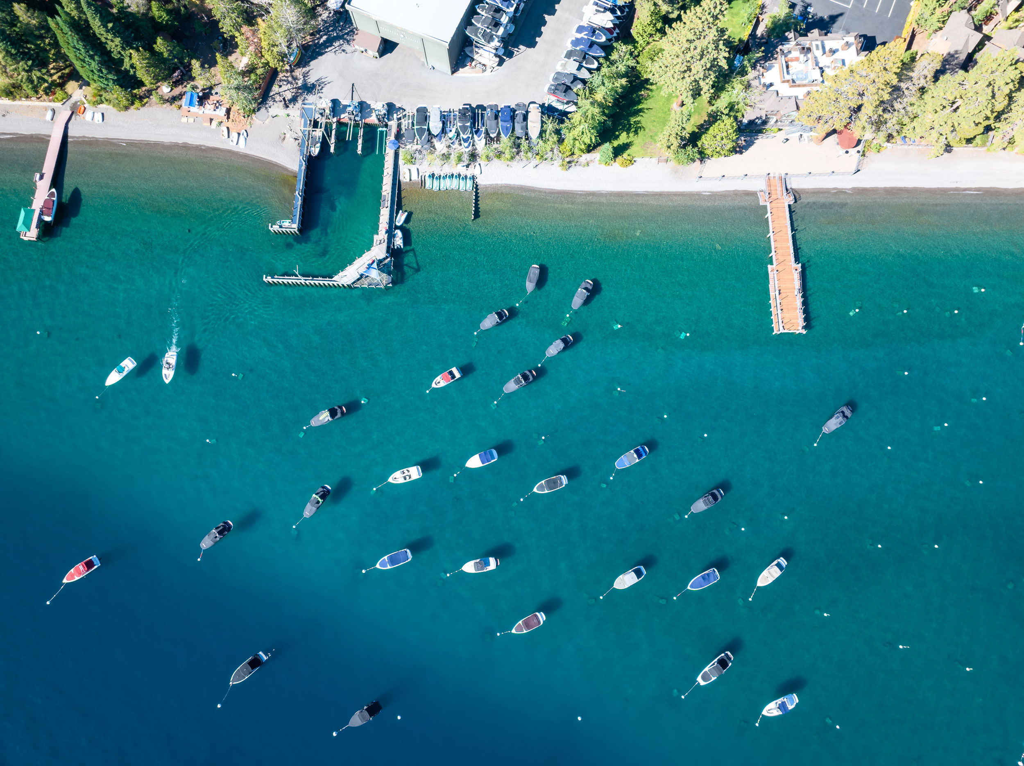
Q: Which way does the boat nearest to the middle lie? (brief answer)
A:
at an angle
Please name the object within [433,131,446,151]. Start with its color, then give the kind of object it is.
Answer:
white boat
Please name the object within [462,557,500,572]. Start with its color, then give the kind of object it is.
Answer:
white boat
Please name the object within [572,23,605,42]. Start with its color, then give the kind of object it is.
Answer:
blue boat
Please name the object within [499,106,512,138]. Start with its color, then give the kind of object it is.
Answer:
blue boat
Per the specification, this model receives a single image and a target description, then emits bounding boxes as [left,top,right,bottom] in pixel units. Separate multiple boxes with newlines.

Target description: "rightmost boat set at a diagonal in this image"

[823,406,851,434]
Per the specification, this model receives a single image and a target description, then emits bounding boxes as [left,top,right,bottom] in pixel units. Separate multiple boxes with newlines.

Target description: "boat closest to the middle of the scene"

[504,371,535,395]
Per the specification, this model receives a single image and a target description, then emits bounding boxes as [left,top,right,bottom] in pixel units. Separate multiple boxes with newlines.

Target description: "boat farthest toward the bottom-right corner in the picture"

[762,694,797,715]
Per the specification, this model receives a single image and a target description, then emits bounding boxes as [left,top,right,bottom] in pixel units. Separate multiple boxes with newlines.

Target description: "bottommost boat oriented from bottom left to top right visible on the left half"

[349,699,383,726]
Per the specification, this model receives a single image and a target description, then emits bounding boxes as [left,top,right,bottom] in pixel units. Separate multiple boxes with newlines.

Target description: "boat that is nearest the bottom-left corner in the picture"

[63,556,102,583]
